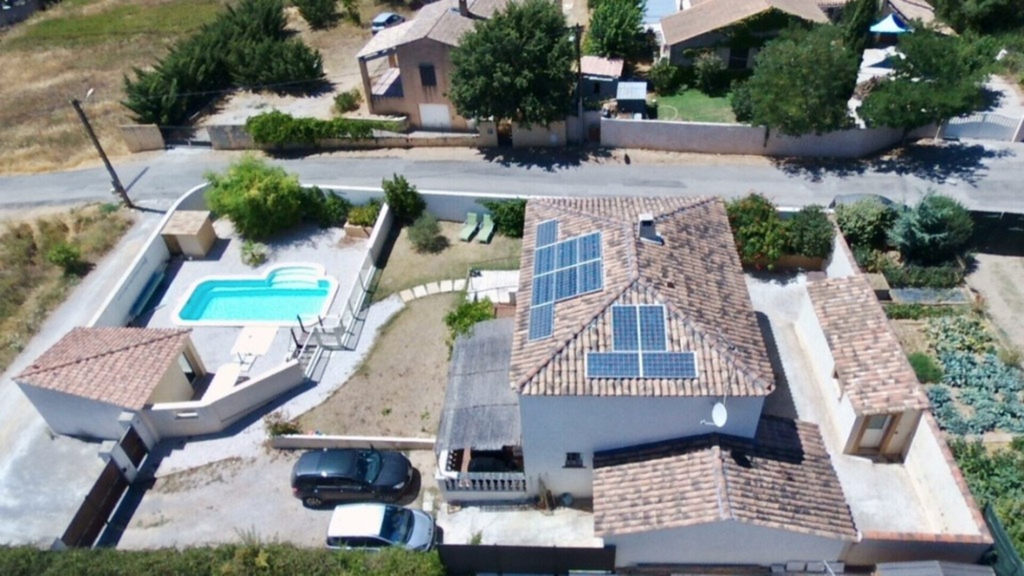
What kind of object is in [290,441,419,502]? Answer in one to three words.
car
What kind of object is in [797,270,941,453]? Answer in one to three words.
shed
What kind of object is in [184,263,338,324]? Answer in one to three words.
swimming pool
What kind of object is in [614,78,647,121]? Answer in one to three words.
shed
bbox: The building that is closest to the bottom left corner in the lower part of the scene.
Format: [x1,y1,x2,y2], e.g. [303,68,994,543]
[8,319,209,443]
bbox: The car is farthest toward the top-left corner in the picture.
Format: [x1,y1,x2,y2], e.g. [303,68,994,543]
[364,15,403,36]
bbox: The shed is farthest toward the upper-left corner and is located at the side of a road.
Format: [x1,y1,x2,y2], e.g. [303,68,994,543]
[153,203,217,258]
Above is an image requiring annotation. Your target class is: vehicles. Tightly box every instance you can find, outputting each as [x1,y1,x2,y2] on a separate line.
[290,441,419,502]
[823,188,912,224]
[364,15,403,36]
[316,500,439,563]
